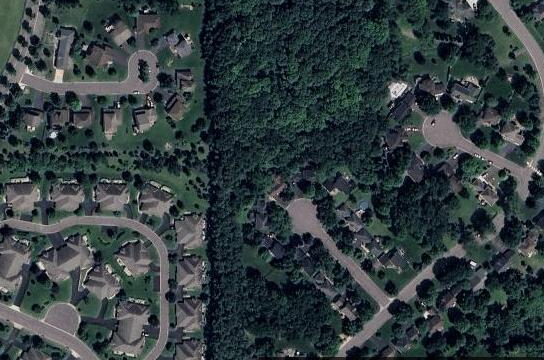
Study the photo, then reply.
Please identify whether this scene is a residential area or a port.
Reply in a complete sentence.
The picture captures a residential area.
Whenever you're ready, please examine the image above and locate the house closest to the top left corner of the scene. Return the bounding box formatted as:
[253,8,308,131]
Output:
[53,32,71,72]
